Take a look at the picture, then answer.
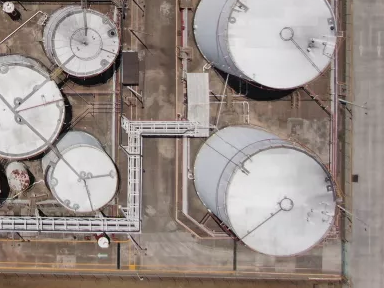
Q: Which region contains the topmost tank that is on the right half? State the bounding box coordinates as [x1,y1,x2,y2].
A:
[189,0,340,90]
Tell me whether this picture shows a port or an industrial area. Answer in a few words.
industrial area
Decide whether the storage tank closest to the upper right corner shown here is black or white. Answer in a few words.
white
